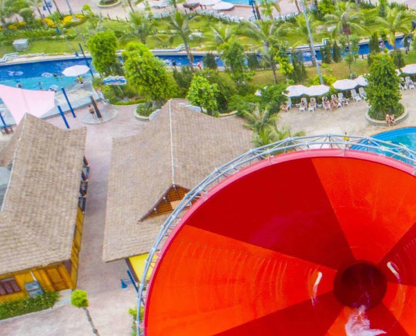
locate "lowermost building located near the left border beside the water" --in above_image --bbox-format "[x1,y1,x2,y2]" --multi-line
[0,110,98,304]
